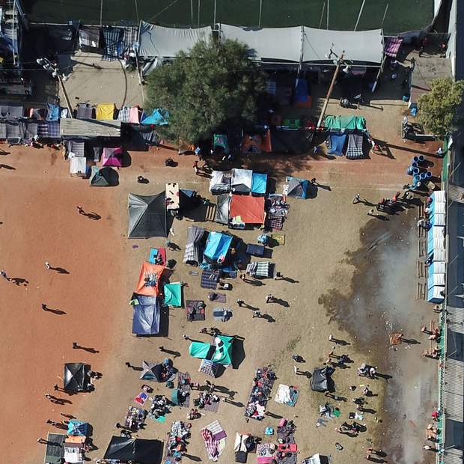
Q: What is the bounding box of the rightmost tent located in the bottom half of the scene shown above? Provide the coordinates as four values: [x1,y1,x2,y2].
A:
[311,367,332,393]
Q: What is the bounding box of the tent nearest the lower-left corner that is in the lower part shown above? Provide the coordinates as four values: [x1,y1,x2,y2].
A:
[67,420,91,438]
